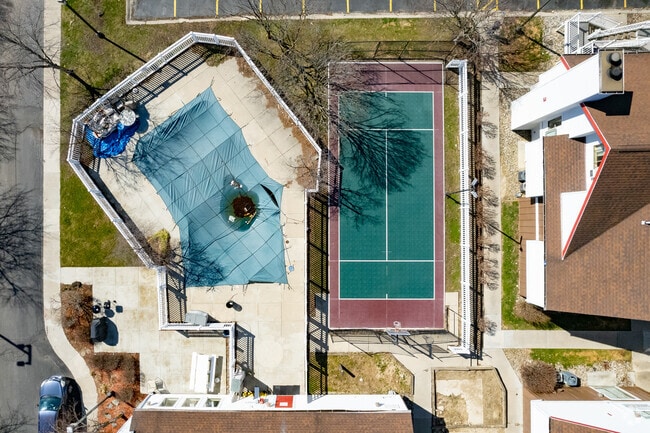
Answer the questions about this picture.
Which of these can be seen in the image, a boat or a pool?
pool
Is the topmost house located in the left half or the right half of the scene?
right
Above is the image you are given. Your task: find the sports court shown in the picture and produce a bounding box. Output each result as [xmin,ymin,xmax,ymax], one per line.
[329,61,445,330]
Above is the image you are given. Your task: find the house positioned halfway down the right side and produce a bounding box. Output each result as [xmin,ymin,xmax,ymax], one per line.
[512,48,650,320]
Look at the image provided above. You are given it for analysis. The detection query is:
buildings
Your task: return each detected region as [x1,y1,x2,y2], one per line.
[523,384,650,433]
[110,392,414,433]
[512,48,650,320]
